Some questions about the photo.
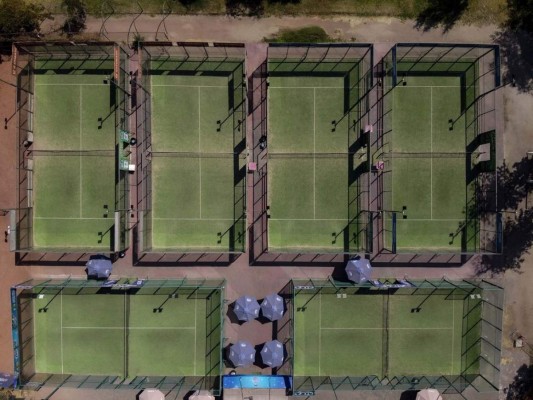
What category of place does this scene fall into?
sports ground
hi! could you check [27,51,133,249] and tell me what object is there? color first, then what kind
green sports court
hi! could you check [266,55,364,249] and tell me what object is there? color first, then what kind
green sports court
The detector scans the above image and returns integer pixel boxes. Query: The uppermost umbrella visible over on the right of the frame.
[344,256,372,284]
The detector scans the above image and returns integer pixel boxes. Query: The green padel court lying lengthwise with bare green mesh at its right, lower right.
[289,279,484,378]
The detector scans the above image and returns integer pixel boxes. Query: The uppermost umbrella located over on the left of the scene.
[86,255,112,281]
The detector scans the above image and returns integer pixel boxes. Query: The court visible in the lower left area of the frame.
[31,279,225,378]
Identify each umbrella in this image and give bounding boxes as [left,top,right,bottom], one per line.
[259,292,285,318]
[228,340,255,368]
[86,255,112,281]
[416,389,442,400]
[138,389,164,400]
[344,256,372,284]
[260,339,286,365]
[189,390,214,400]
[233,294,259,321]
